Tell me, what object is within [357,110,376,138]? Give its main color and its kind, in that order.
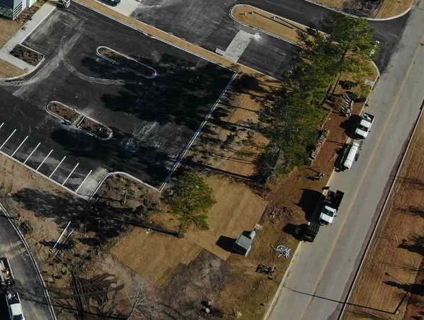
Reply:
white vehicle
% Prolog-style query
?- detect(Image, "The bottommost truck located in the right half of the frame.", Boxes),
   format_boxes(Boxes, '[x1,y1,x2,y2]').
[299,214,325,247]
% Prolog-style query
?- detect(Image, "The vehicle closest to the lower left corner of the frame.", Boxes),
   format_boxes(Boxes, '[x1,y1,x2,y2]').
[5,289,26,320]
